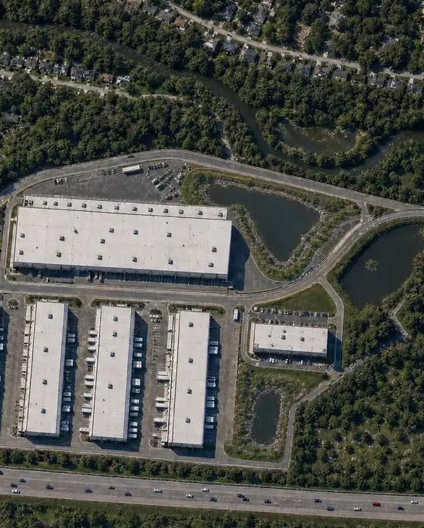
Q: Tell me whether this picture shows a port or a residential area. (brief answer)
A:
residential area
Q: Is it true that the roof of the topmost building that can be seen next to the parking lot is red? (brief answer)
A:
No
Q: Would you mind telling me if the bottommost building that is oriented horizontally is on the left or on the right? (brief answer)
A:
right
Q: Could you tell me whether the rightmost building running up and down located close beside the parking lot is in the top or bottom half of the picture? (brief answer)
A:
bottom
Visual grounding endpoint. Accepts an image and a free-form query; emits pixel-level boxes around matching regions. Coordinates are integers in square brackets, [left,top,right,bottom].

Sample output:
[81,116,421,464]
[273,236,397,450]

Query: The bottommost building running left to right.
[251,324,328,357]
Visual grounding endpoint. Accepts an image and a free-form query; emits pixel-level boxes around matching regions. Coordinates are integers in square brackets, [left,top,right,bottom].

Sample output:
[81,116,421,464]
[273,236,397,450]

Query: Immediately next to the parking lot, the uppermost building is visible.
[13,196,232,281]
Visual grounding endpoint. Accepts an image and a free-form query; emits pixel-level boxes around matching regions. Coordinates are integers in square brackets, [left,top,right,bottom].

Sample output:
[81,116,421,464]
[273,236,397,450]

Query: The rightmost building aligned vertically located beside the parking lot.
[161,311,214,448]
